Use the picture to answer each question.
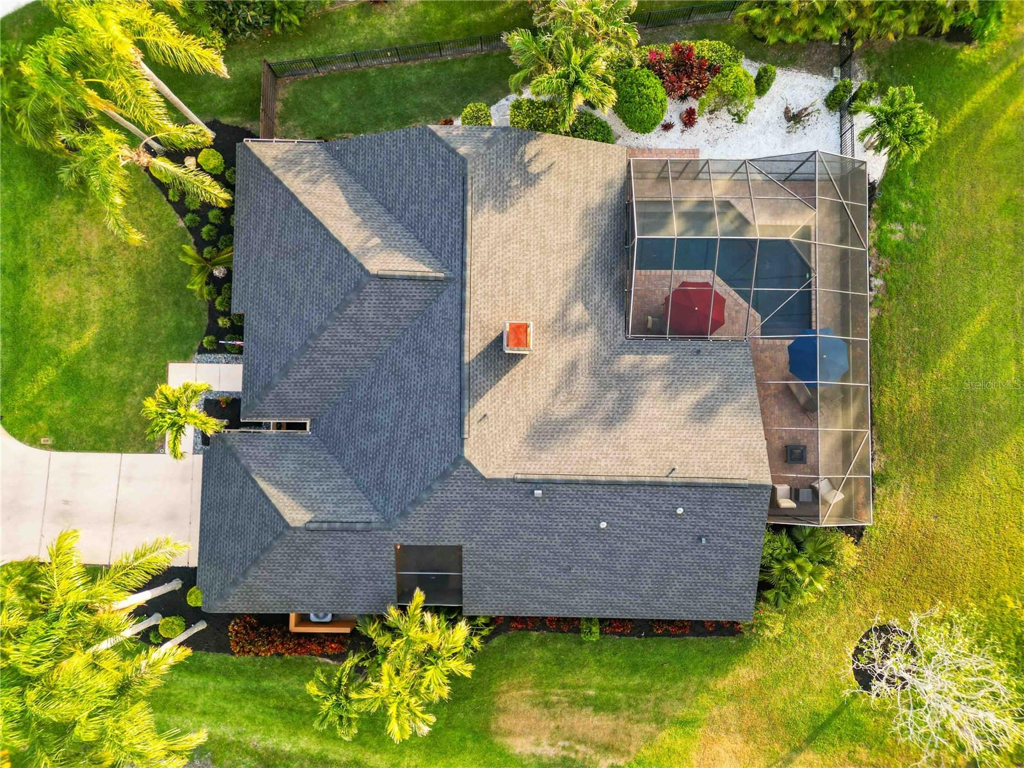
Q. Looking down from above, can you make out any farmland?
No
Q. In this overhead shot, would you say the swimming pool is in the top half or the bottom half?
top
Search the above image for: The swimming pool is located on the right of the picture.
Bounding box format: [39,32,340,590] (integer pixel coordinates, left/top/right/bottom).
[636,201,811,334]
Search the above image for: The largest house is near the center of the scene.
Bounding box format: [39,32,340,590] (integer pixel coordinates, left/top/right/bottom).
[200,123,772,619]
